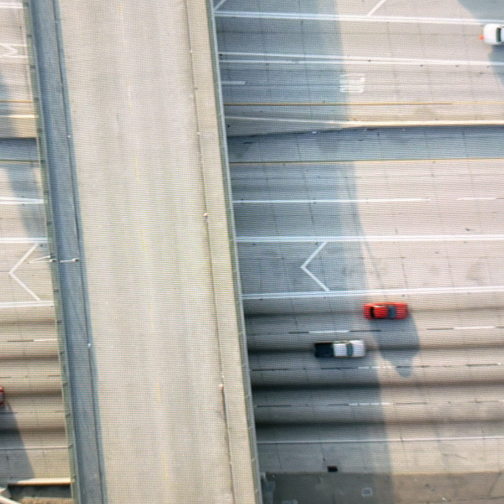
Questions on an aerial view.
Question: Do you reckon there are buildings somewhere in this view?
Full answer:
No, no building is visible in the view.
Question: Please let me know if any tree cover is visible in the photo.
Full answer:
No, no tree cover is visible.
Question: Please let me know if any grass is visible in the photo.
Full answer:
No, there's no grass in this view.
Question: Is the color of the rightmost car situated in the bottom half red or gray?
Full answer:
The rightmost car situated in the bottom half is red.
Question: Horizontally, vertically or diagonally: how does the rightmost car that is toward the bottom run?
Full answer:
What the image shows is the rightmost car that is toward the bottom lying horizontally.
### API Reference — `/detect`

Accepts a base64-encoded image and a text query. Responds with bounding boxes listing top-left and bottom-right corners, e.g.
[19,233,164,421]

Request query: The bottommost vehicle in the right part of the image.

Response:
[313,339,366,361]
